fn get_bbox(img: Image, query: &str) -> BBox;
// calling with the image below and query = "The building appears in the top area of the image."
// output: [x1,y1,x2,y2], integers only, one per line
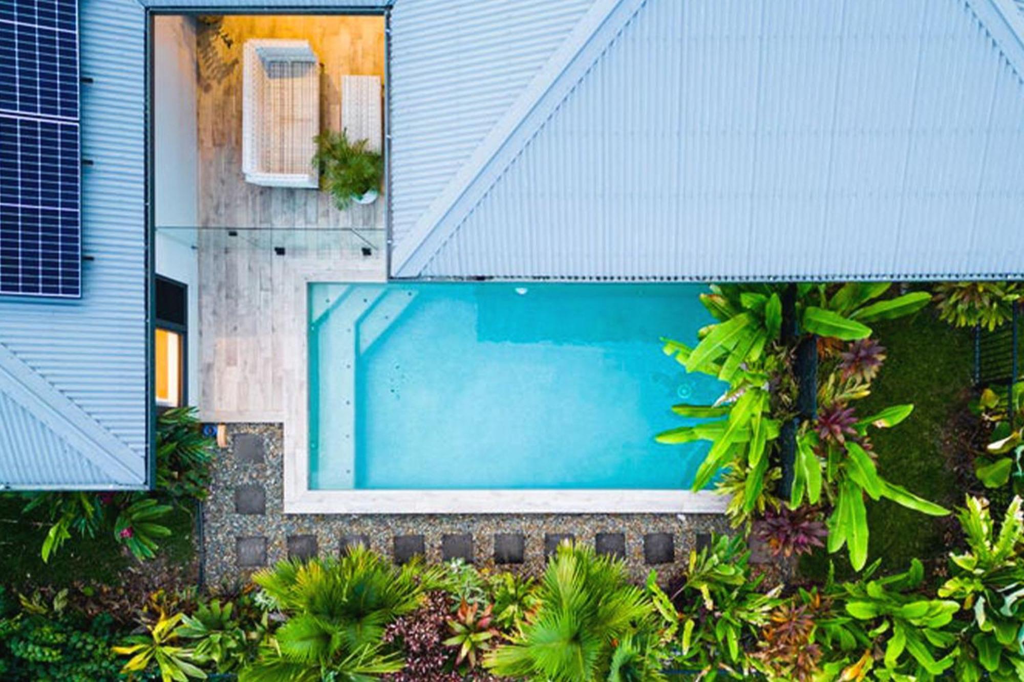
[0,0,1024,494]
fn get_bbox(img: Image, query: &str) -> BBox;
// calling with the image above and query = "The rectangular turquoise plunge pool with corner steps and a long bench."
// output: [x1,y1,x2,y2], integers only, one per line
[308,282,736,490]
